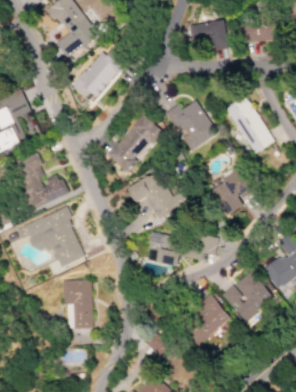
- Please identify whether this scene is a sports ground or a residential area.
residential area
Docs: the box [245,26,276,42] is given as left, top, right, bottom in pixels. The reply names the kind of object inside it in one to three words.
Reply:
house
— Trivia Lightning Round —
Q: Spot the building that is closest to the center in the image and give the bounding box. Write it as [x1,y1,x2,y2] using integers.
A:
[130,172,183,215]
